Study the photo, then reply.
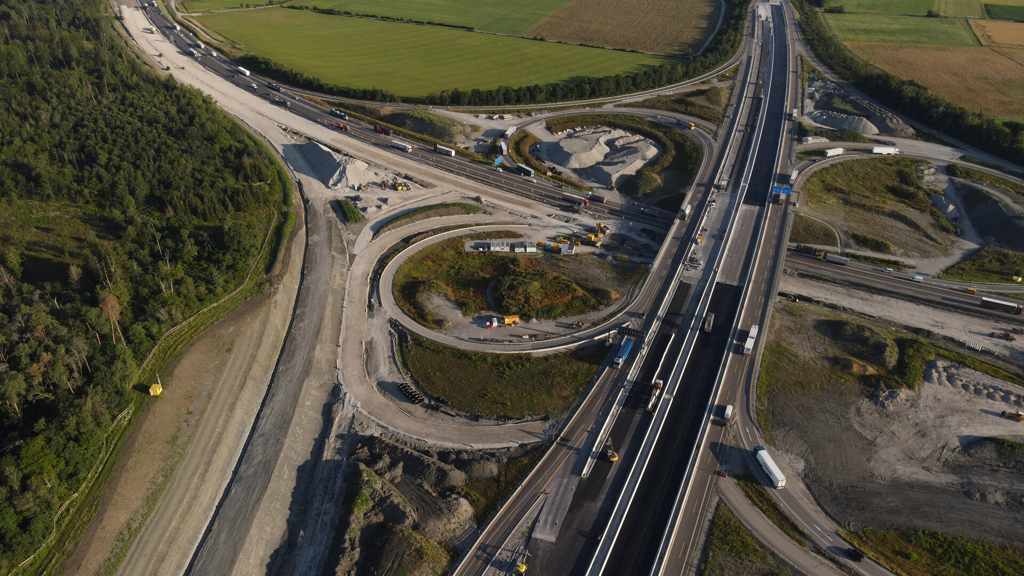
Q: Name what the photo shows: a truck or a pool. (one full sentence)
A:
There is a truck in the scene.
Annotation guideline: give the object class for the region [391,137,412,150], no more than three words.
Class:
vehicle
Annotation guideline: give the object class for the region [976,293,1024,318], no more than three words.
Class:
truck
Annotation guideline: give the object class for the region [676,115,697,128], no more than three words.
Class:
vehicle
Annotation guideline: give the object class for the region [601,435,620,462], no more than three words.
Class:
work vehicle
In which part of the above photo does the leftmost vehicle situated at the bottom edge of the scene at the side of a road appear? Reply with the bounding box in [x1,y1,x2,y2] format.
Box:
[513,539,531,573]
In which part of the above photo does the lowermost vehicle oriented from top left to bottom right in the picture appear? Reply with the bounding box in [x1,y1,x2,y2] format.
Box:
[844,544,868,563]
